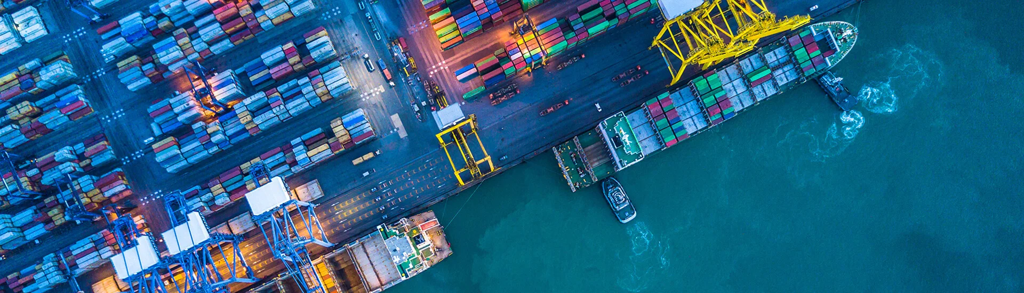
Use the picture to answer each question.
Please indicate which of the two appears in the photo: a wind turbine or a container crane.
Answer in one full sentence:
This aerial view contains a container crane.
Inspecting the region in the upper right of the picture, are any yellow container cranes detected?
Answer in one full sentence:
Yes, the scene does show a yellow container crane in the upper right of the picture.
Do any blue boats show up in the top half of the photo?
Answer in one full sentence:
Yes, looking in the top half of the photo, one can make out a blue boat.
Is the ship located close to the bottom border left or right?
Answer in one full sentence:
The ship located close to the bottom border sits on the left side.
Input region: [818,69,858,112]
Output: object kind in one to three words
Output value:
boat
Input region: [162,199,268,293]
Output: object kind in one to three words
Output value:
container crane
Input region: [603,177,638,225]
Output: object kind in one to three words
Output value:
boat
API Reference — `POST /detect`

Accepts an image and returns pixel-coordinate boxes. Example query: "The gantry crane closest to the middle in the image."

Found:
[430,85,499,186]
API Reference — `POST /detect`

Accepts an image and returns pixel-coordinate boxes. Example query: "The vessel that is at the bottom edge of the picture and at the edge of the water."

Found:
[244,211,453,293]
